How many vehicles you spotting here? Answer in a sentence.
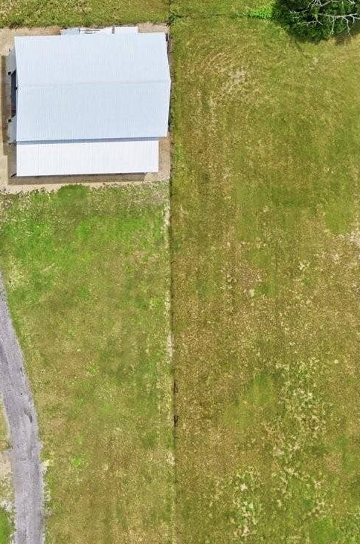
There are no vehicles in this view.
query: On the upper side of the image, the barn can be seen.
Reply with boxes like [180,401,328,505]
[8,31,171,176]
